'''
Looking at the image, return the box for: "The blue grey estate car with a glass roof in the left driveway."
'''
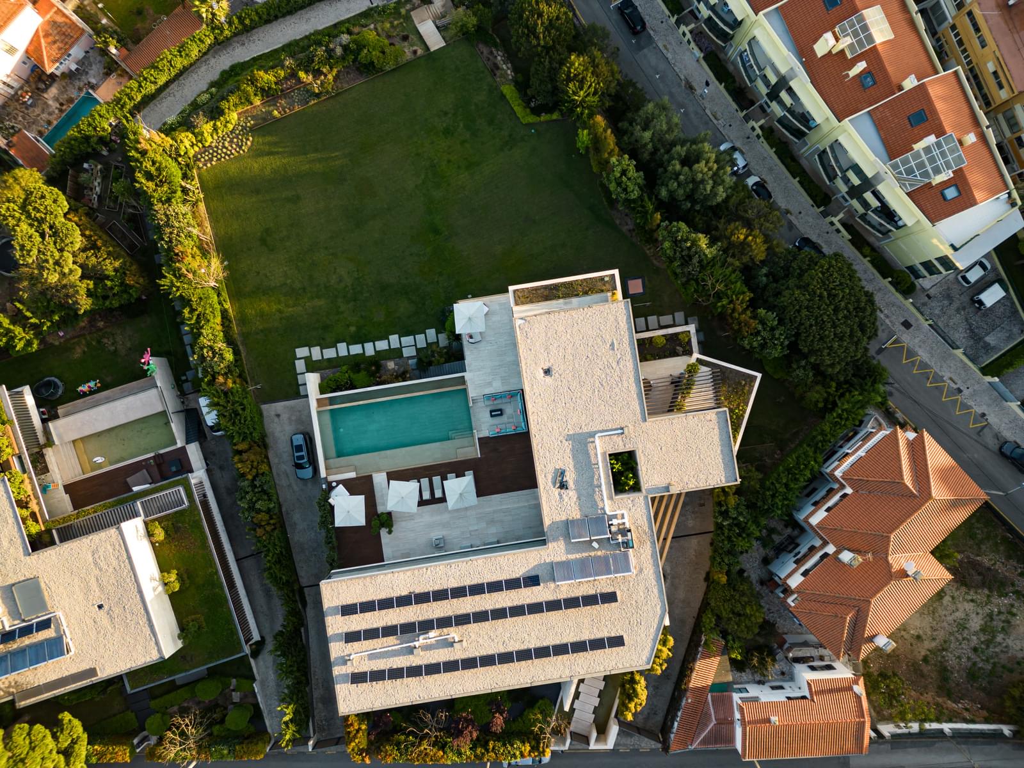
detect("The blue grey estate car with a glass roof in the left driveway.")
[291,432,316,480]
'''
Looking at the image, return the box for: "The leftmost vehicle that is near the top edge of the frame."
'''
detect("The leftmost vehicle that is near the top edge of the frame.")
[615,0,648,41]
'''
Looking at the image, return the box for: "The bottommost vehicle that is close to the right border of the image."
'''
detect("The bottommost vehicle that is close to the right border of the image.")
[993,437,1024,475]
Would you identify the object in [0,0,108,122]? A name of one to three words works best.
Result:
house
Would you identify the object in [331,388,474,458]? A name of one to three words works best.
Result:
swimming pool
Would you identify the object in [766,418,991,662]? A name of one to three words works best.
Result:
house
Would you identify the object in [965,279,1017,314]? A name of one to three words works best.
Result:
van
